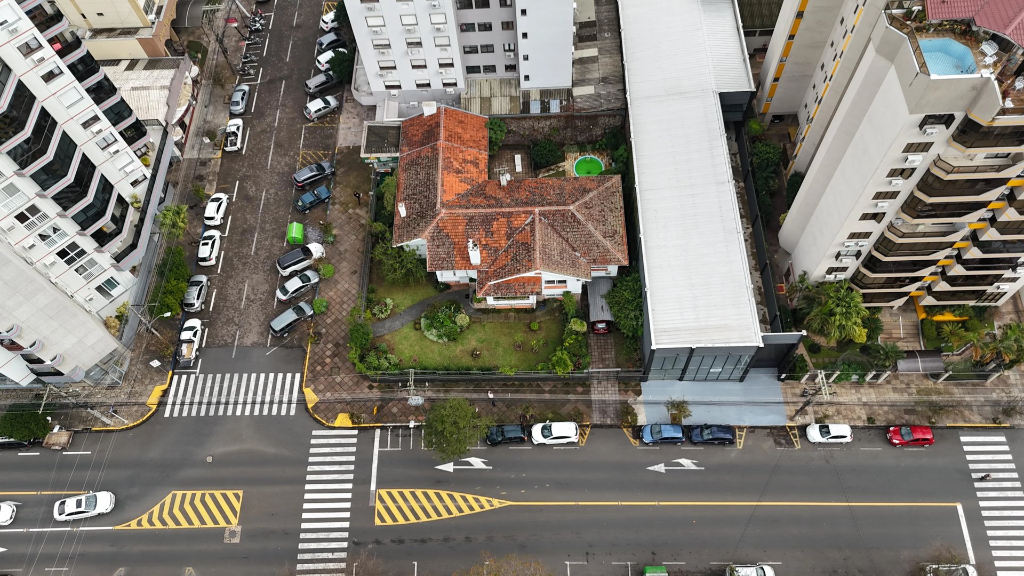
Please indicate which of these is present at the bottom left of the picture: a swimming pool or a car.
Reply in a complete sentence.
It is a car that can be seen at the bottom left of the picture.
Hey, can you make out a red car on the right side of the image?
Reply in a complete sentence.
Yes, a red car shows up on the right side of the image.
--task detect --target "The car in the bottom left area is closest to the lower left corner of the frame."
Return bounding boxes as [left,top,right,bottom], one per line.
[0,503,20,527]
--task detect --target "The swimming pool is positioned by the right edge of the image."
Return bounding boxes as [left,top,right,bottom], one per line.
[918,37,979,74]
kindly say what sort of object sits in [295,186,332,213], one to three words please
car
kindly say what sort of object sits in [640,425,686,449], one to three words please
car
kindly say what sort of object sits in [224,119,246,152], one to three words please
truck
